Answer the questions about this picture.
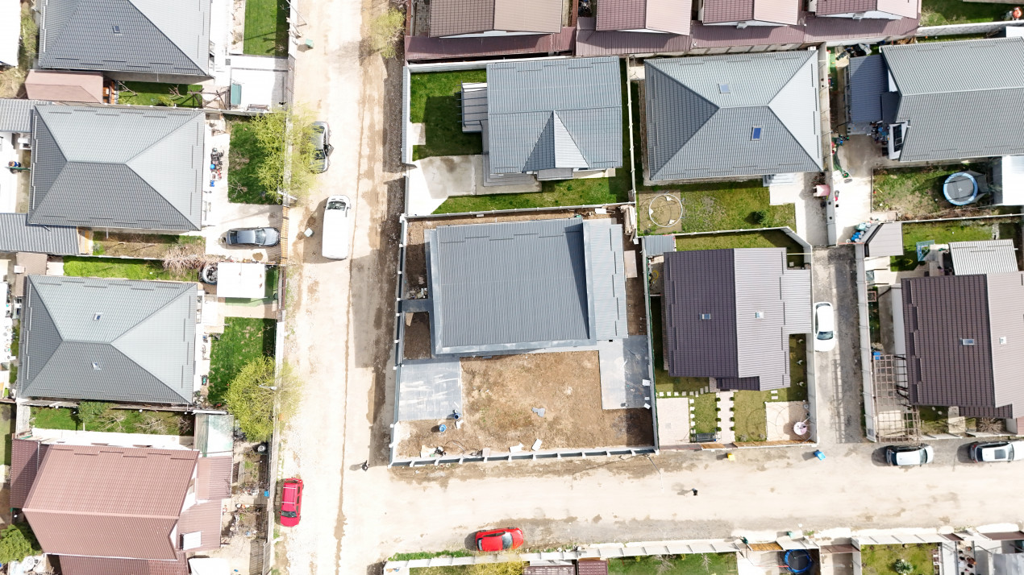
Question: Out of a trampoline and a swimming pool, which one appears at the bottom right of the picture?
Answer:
trampoline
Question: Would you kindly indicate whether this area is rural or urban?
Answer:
urban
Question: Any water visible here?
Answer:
No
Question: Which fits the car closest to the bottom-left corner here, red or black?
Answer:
red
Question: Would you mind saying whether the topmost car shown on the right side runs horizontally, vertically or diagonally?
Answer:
vertically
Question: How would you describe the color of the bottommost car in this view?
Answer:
red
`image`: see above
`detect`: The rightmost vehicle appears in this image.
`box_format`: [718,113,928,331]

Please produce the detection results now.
[967,438,1024,465]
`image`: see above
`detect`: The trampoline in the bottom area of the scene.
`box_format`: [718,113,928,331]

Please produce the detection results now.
[781,550,818,575]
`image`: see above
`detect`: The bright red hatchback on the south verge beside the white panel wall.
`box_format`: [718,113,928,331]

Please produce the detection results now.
[476,526,524,553]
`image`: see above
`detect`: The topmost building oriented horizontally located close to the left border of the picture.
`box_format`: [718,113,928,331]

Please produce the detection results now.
[38,0,222,79]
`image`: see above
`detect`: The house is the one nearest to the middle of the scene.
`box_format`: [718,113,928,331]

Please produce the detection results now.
[430,218,628,354]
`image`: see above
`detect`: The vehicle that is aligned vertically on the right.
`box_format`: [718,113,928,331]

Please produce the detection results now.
[815,301,837,351]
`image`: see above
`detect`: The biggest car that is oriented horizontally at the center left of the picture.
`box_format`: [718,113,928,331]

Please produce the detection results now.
[224,223,279,249]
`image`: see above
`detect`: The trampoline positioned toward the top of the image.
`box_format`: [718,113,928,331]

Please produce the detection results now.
[939,172,986,206]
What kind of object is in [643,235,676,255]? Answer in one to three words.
shed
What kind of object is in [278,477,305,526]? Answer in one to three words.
car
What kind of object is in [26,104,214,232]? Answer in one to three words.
house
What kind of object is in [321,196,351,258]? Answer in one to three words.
van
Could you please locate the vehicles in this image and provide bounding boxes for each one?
[224,223,279,249]
[967,438,1024,465]
[307,122,338,173]
[884,443,932,469]
[278,477,305,526]
[815,301,837,351]
[476,526,524,553]
[321,196,351,258]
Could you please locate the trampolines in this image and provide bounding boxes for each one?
[781,550,818,575]
[939,172,986,206]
